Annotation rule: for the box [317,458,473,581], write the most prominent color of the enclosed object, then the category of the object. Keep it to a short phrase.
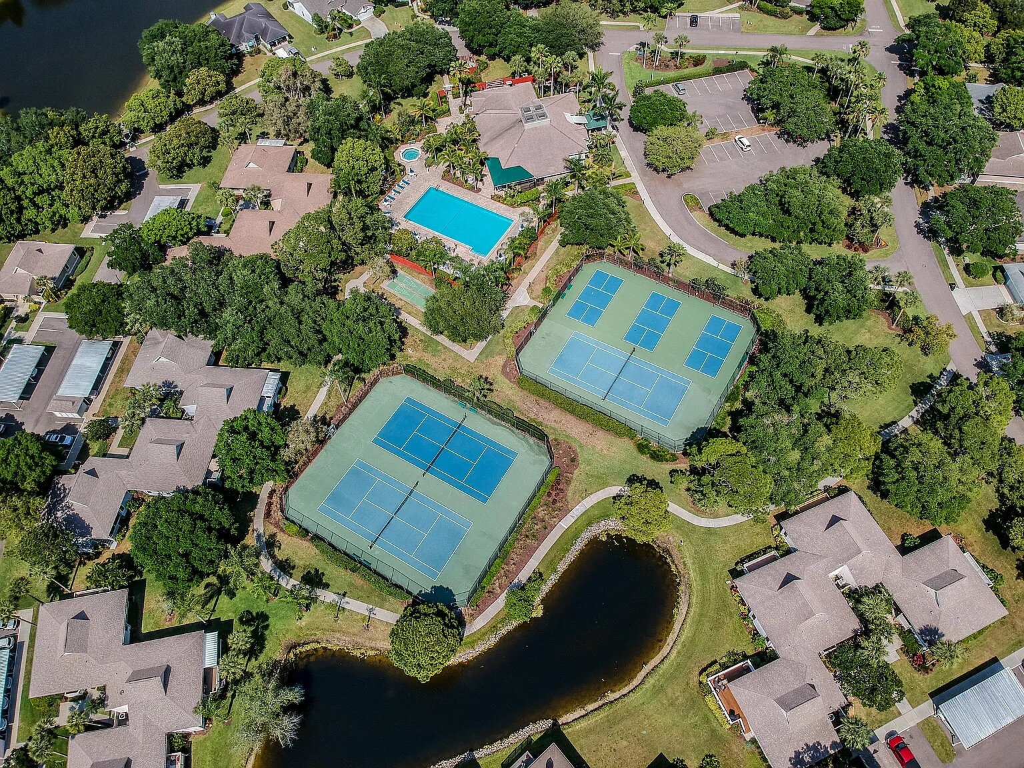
blue tennis court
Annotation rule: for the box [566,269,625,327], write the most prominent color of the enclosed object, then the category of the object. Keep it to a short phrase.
blue sports court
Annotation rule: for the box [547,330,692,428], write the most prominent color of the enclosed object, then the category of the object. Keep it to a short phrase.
blue tennis court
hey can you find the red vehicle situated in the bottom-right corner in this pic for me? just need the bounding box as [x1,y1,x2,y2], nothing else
[886,730,923,768]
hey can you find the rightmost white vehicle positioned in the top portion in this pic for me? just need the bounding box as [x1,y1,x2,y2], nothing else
[735,136,750,151]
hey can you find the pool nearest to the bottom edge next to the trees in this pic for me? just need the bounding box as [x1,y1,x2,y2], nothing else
[402,184,517,258]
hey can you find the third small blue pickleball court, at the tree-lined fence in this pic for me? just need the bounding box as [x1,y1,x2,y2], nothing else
[684,314,743,378]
